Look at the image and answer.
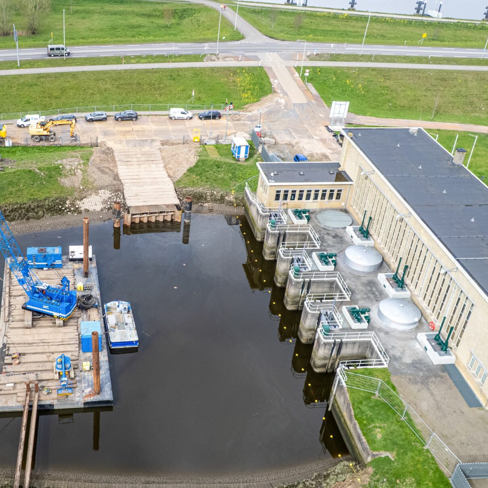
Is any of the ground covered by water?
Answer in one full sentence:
Yes, there is water in the image.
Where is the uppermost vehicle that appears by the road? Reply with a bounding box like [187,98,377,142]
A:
[45,43,70,57]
